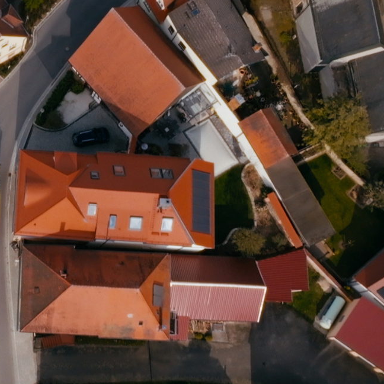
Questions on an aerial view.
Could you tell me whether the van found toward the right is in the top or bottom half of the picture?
bottom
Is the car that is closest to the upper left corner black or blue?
black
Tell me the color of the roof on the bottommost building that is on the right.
red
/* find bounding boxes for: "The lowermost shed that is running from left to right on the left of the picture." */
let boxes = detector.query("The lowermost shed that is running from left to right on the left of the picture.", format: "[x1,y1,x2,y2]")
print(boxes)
[41,335,74,348]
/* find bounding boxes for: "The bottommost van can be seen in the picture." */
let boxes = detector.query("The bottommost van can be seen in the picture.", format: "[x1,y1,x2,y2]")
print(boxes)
[312,293,348,333]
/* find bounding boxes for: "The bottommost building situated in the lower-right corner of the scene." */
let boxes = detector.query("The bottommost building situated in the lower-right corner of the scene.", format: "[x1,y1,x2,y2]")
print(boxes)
[327,297,384,372]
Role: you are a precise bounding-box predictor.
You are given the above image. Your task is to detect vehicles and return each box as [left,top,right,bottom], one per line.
[312,293,348,333]
[71,127,111,148]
